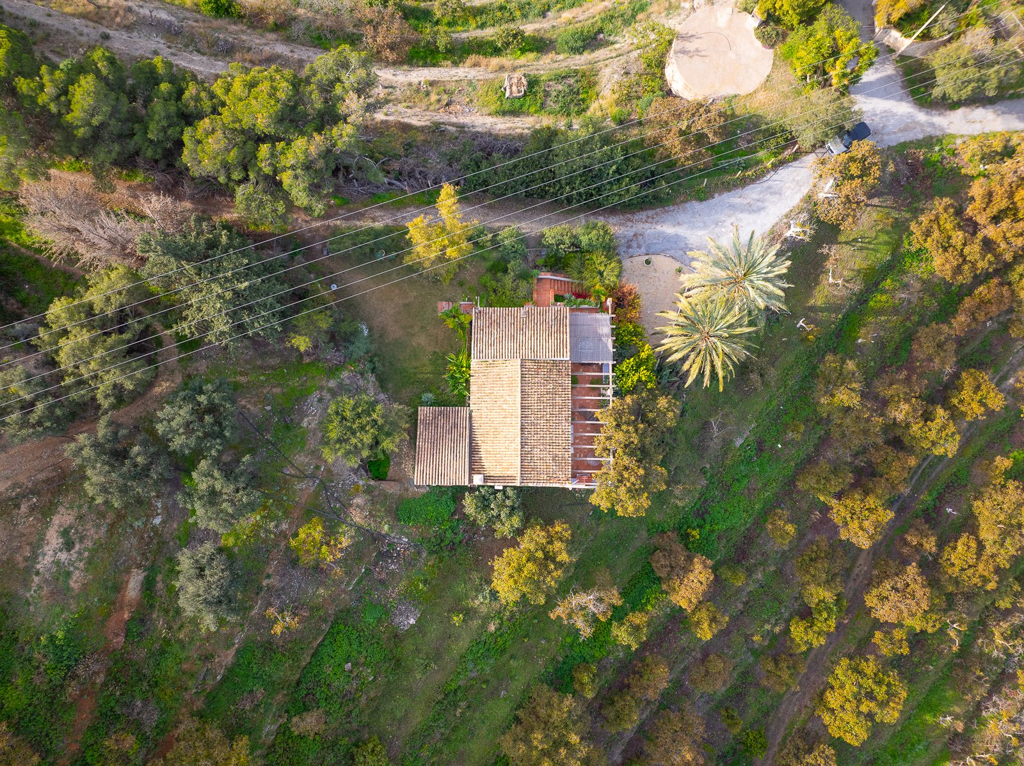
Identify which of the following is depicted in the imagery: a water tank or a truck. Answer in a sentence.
There is a water tank in the scene.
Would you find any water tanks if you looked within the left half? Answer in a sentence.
No, no water tank can be made out within the left half.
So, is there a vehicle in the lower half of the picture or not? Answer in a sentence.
No, no vehicle can be made out in the lower half of the picture.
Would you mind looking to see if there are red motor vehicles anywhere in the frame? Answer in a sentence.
No, the picture doesn't show any red motor vehicle.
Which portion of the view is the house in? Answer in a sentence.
Look in the center portion of the view to spot the house.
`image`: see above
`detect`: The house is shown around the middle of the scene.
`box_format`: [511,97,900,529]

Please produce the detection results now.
[414,305,574,488]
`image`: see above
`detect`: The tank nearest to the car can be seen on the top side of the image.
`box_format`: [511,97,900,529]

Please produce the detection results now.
[670,5,774,102]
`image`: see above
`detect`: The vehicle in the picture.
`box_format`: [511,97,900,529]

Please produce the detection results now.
[823,119,874,158]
